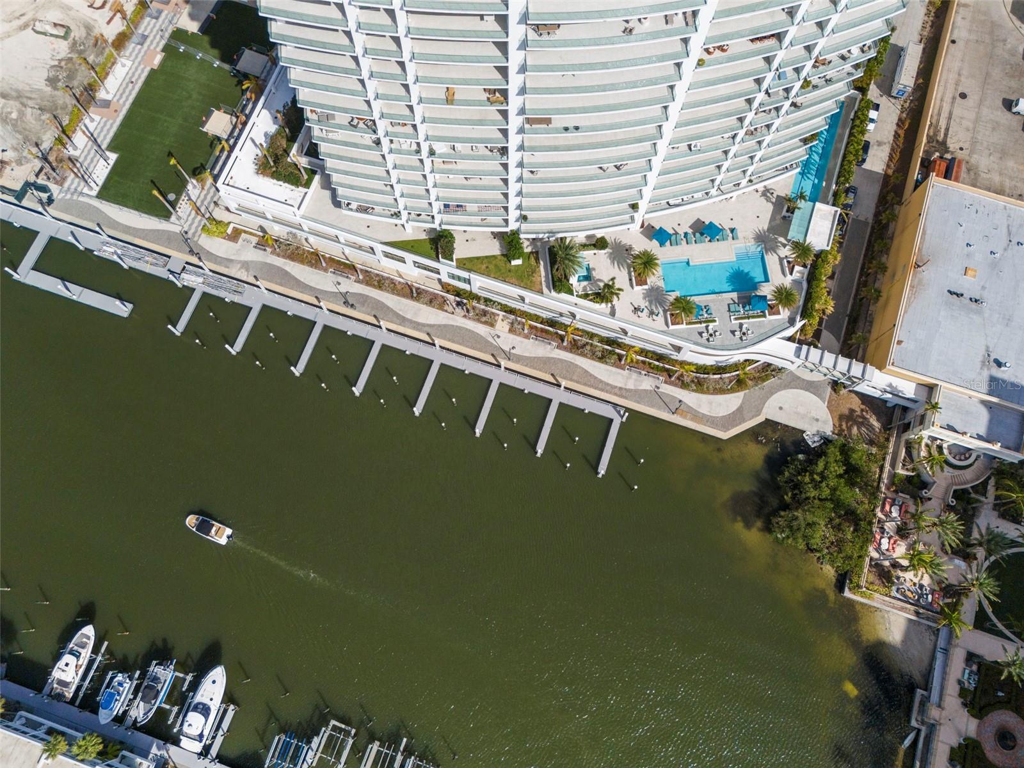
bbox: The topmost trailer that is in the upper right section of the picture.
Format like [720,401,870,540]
[890,41,923,98]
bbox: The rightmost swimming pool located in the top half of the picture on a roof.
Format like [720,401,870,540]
[788,98,844,240]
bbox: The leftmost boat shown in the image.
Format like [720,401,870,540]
[48,625,97,706]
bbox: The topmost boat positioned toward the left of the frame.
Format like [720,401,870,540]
[186,516,234,545]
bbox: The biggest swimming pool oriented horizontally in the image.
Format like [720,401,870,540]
[657,239,775,300]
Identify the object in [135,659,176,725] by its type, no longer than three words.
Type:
boat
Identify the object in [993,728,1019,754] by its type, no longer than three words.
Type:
fountain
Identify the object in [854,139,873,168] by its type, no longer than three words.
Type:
car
